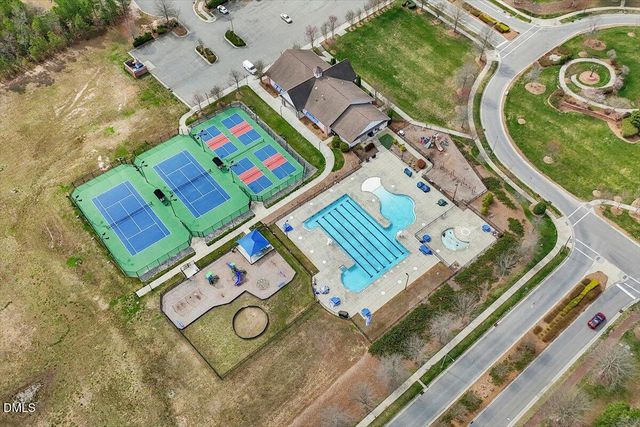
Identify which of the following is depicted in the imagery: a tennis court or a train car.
tennis court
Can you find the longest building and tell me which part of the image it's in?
top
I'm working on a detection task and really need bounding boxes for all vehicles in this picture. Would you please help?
[589,312,608,328]
[243,61,255,73]
[281,13,291,21]
[217,4,228,13]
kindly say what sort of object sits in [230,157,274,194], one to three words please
sports court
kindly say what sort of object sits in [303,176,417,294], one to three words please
swimming pool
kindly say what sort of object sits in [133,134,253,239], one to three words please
tennis court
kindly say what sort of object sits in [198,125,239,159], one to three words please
sports court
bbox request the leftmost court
[71,163,192,278]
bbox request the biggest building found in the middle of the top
[266,49,391,148]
